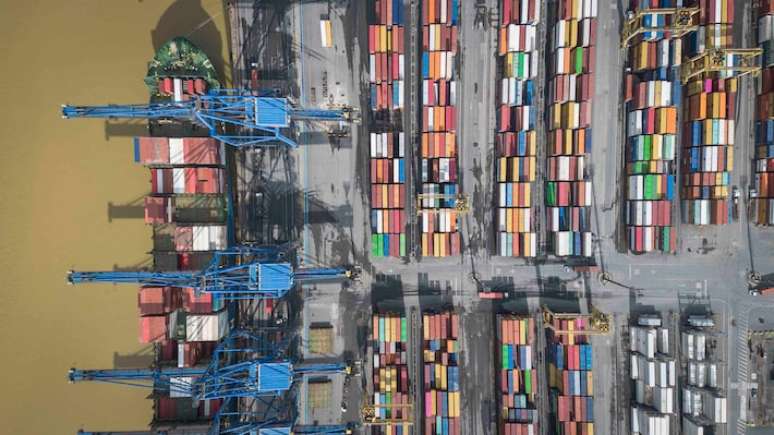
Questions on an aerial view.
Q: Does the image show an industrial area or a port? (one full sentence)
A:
What you see here is a port.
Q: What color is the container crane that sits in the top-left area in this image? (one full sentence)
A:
The container crane that sits in the top-left area looks blue in the image.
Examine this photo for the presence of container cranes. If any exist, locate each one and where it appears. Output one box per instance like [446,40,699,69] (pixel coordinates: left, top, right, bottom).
[621,9,700,47]
[66,324,357,397]
[361,384,414,424]
[57,86,354,149]
[681,47,763,82]
[415,190,471,214]
[62,239,356,300]
[541,301,610,335]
